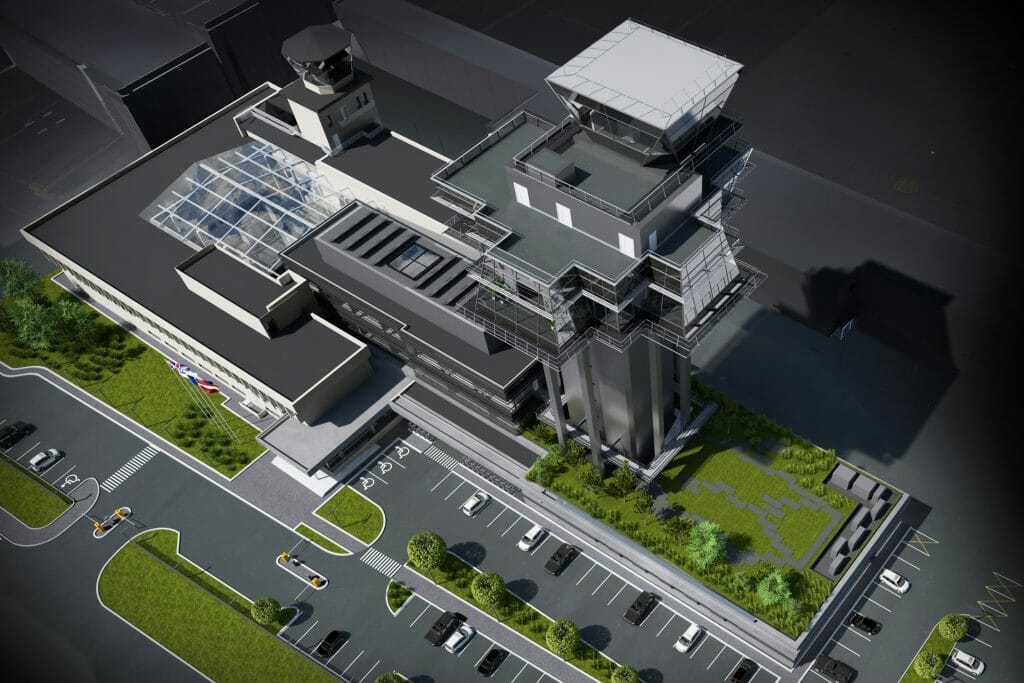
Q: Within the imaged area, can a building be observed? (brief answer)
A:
Yes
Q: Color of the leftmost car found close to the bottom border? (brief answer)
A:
black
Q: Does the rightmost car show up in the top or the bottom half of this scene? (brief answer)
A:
bottom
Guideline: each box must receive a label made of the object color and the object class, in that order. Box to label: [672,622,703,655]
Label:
white car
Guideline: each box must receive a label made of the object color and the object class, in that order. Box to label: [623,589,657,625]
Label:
black car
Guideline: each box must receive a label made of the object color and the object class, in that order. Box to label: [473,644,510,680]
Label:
black car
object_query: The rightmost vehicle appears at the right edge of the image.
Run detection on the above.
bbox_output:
[948,648,985,676]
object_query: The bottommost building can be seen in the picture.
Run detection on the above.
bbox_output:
[387,373,906,668]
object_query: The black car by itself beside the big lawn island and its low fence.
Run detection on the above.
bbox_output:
[309,627,350,662]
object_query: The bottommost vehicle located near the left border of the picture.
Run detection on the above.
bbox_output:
[27,448,65,474]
